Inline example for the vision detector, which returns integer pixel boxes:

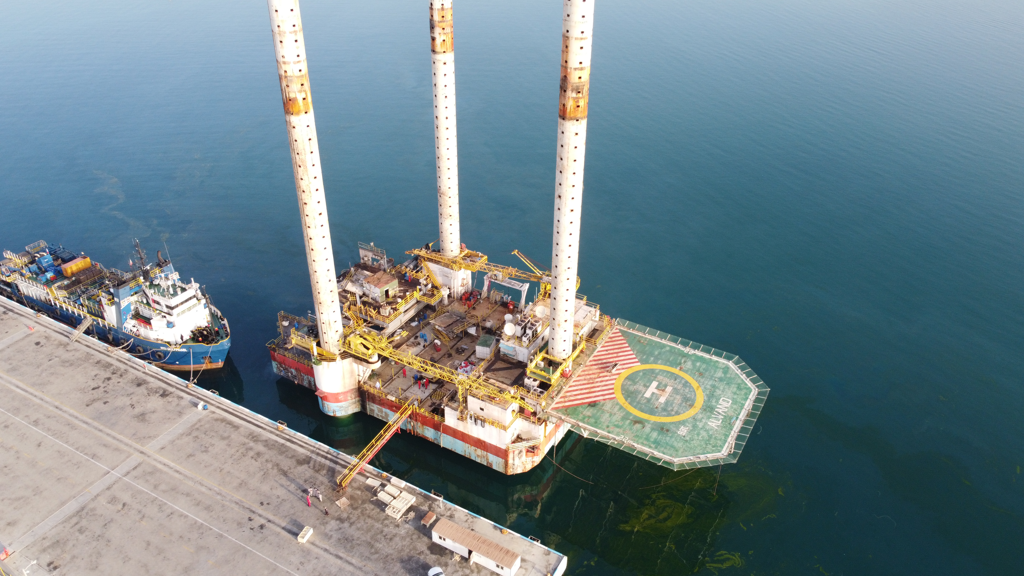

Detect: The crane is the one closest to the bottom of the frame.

[341,315,537,433]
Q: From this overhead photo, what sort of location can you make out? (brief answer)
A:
port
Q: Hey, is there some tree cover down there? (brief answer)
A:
No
